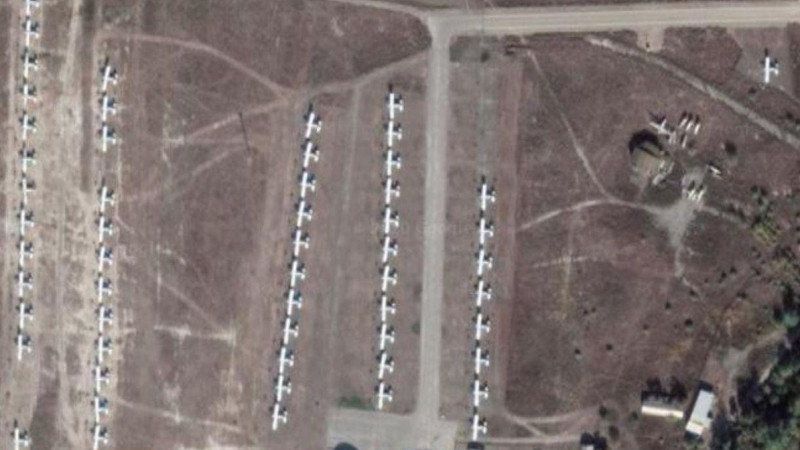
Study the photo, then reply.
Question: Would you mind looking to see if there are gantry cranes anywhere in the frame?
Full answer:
No, I can't see a single gantry crane in this photo.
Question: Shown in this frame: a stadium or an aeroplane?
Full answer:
There is an aeroplane in the scene.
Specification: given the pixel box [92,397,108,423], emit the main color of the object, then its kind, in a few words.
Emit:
white airplane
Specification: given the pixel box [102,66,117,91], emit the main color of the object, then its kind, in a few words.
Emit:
white airplane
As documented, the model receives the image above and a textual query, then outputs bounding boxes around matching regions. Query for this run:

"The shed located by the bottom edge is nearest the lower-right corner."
[686,390,715,438]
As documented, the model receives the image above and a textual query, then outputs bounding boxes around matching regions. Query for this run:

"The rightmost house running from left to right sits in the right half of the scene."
[641,400,684,417]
